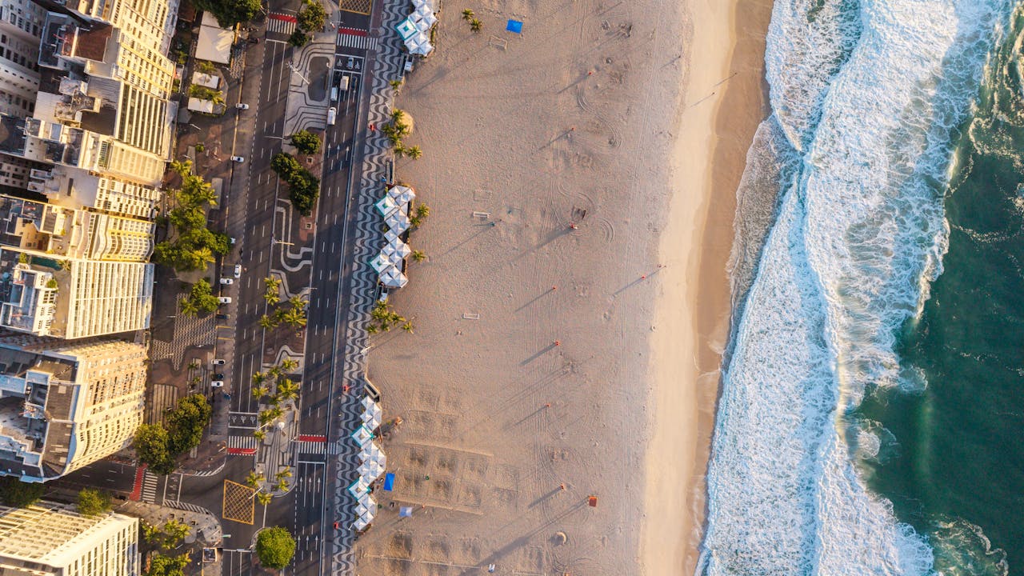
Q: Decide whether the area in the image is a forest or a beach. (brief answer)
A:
beach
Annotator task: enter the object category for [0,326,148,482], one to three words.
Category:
building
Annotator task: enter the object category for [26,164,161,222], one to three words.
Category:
building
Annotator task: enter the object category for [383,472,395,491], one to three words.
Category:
gazebo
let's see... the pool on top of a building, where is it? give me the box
[30,257,62,270]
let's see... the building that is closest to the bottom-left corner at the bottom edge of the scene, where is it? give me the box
[0,497,140,576]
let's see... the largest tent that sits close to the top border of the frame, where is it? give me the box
[195,26,235,67]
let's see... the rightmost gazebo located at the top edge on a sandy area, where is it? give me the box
[506,19,523,34]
